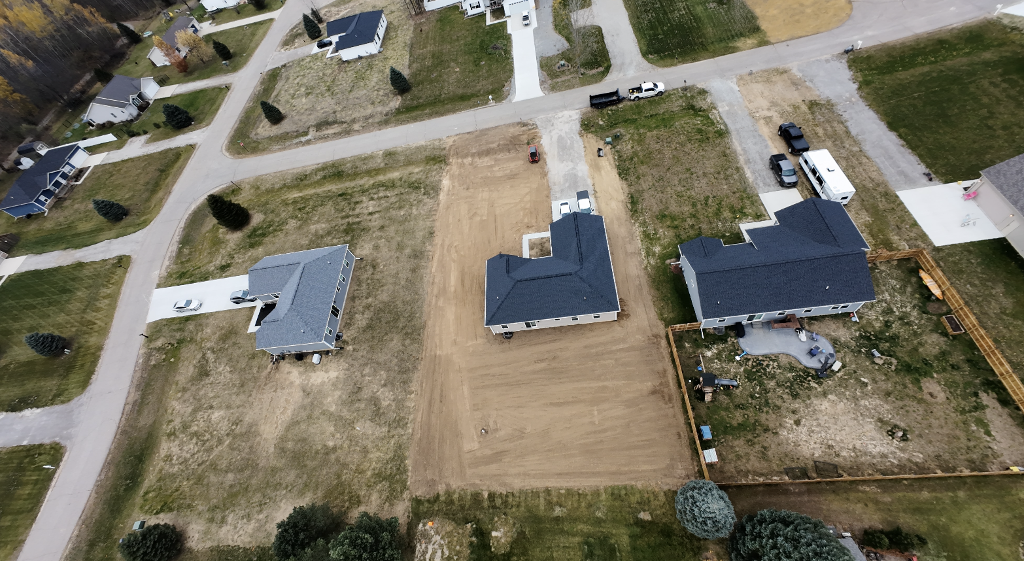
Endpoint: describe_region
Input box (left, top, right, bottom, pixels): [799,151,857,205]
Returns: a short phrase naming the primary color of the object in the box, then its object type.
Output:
white vehicle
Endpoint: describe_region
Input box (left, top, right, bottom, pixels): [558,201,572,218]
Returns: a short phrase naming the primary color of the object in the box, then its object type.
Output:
white car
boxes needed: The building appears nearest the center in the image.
[484,211,620,339]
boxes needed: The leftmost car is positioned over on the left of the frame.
[172,298,199,314]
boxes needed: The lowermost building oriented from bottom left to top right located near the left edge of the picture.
[1,144,92,215]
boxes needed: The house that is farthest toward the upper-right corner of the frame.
[965,155,1024,257]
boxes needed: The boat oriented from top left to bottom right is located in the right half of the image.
[914,268,938,300]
